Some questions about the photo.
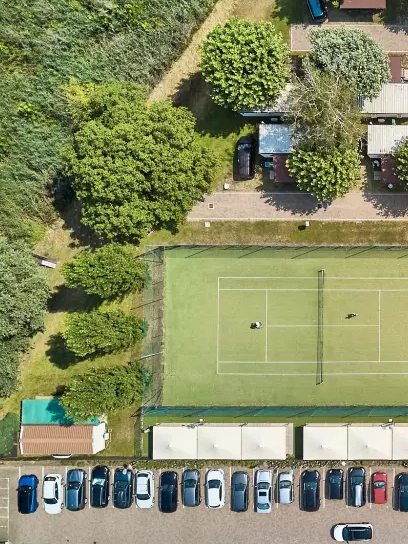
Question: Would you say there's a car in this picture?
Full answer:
Yes, the frame does contain a car.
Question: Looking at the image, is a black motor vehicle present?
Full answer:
Yes, the photo shows a black motor vehicle.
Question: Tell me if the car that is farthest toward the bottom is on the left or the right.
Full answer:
The car that is farthest toward the bottom appears in the right half of the scene.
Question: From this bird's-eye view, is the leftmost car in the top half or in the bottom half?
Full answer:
The leftmost car is in the bottom half of the image.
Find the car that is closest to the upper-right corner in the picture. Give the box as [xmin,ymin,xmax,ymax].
[306,0,327,22]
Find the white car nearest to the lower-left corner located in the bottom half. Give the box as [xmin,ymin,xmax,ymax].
[41,475,64,514]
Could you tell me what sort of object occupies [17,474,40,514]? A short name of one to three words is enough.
car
